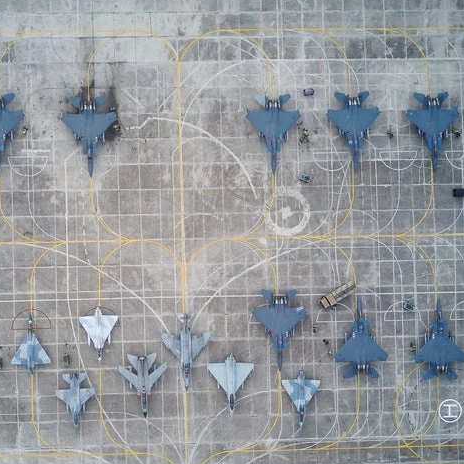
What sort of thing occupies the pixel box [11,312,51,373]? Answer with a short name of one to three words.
airplane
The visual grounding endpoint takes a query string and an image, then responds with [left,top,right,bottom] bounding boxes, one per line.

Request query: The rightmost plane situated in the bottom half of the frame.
[413,300,464,380]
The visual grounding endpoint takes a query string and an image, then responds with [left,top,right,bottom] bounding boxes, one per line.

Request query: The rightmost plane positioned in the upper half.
[406,90,462,170]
